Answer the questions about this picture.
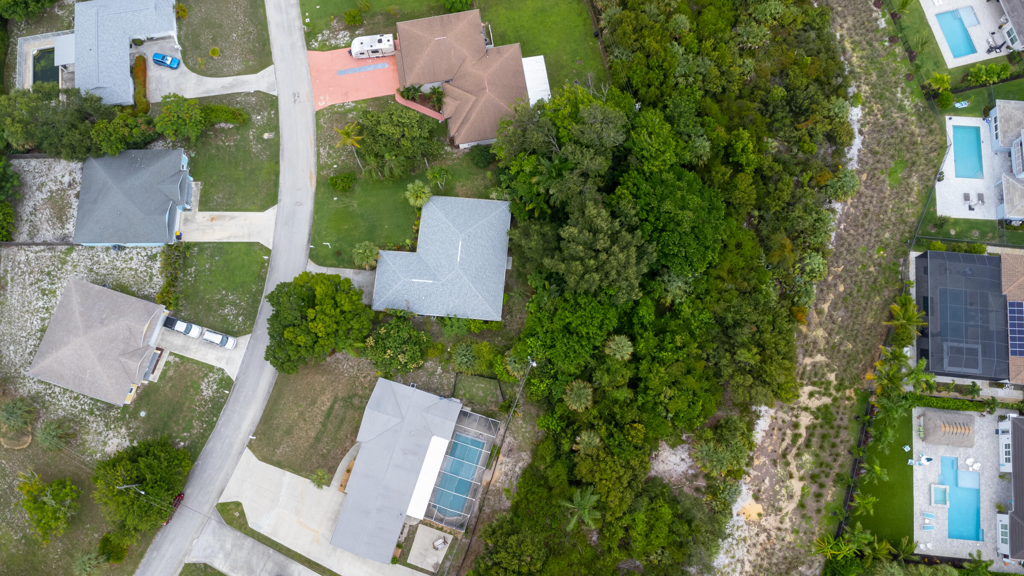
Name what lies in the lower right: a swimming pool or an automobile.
swimming pool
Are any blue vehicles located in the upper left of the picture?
Yes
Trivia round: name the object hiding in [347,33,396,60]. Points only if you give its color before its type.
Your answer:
white camper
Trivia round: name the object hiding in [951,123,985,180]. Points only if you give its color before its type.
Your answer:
blue swimming pool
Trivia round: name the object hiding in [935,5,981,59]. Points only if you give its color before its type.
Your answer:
blue swimming pool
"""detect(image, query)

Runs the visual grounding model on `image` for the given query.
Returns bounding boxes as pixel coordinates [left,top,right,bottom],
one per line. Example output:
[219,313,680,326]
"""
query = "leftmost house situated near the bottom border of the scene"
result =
[330,378,463,564]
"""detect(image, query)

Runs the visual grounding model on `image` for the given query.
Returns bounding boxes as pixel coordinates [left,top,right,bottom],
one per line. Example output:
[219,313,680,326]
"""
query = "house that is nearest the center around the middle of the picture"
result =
[372,196,511,321]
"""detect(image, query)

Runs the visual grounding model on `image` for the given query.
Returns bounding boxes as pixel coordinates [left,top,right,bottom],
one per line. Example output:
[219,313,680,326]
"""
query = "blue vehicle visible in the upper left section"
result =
[150,50,181,71]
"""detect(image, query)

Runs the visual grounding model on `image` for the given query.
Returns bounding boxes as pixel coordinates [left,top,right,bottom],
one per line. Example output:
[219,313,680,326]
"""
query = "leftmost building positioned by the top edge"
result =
[44,0,182,110]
